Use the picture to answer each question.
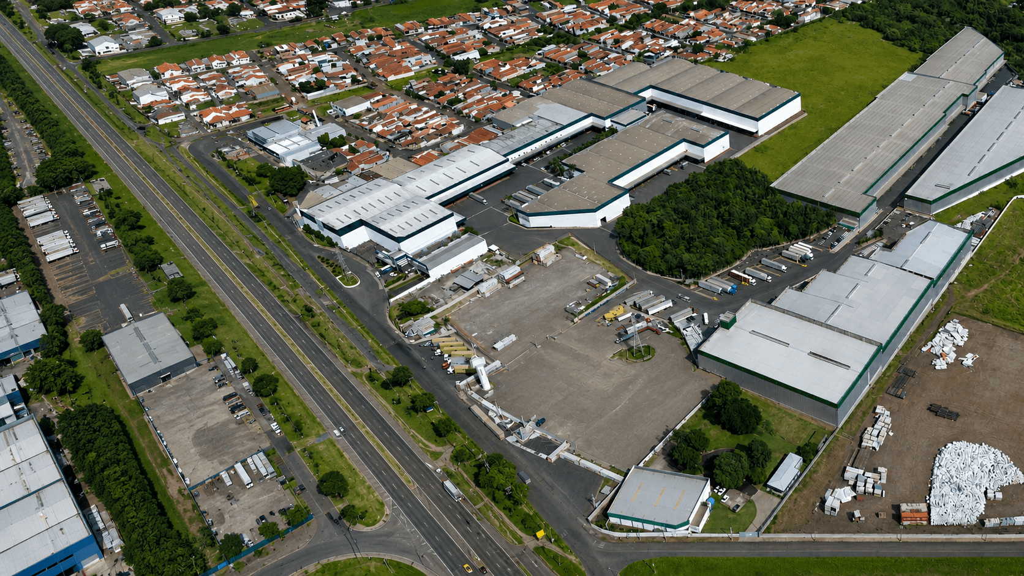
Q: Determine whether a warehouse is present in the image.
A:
Yes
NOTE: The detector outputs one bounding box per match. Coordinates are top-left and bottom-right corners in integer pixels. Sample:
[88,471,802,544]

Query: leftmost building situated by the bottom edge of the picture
[0,412,103,576]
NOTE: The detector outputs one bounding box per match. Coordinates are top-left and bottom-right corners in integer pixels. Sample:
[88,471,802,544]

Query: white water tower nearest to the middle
[473,353,492,393]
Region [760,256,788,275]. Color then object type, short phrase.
gray vehicle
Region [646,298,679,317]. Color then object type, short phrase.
white vehicle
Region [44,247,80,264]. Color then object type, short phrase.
white vehicle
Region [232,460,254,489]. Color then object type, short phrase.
white truck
